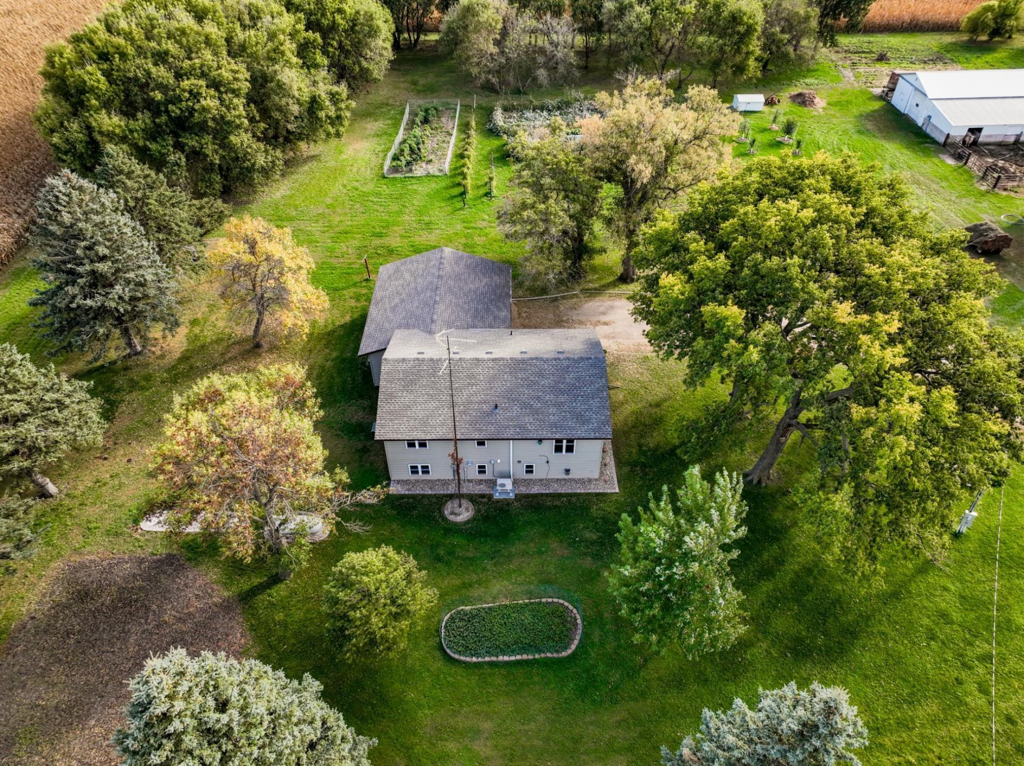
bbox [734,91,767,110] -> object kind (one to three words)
shed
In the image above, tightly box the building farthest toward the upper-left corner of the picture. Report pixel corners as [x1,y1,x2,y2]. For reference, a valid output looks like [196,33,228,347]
[357,246,612,483]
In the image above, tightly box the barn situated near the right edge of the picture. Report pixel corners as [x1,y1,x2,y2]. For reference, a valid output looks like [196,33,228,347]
[890,71,1024,146]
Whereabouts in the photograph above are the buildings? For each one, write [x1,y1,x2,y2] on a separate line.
[734,91,767,110]
[357,246,612,483]
[890,71,1024,146]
